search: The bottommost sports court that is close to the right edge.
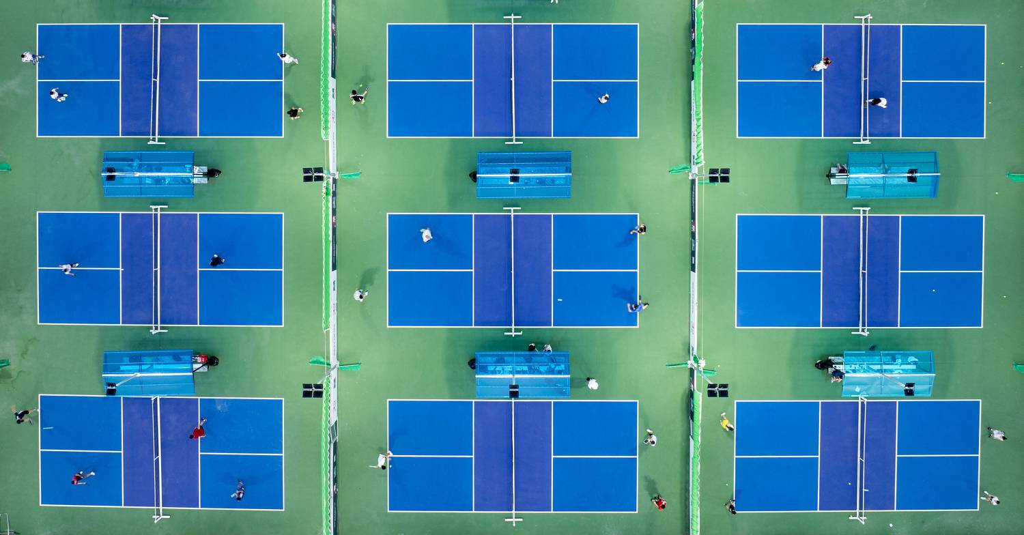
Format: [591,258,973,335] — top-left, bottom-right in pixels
[735,400,981,512]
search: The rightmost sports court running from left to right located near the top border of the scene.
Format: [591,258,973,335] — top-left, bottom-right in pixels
[737,24,987,138]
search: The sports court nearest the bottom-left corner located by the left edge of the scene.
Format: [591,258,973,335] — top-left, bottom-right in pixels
[39,394,284,511]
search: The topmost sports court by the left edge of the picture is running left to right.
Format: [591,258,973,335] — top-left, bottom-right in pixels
[37,23,284,137]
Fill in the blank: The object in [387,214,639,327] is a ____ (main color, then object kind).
blue sports court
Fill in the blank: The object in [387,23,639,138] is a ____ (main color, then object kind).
blue sports court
